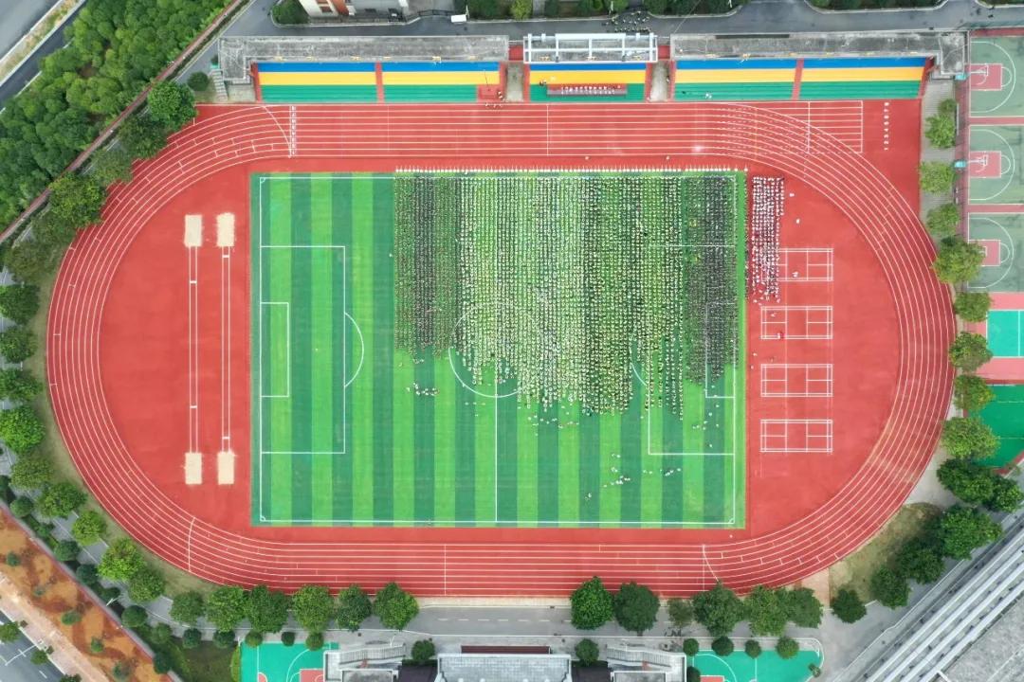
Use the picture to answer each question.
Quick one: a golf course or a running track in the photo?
running track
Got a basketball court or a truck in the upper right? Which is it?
basketball court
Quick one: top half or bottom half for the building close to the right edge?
bottom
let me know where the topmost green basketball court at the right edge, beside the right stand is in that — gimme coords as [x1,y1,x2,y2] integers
[969,36,1024,116]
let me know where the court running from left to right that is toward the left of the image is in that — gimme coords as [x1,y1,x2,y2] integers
[240,643,339,682]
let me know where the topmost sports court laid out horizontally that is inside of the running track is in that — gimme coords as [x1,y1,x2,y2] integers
[761,248,833,281]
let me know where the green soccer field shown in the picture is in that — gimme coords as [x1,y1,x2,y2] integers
[249,171,747,530]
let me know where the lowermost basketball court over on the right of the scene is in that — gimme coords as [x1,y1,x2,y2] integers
[689,651,822,682]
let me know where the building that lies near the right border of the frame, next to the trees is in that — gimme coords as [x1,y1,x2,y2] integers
[832,507,1024,682]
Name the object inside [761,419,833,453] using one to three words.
sports court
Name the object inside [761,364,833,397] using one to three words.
sports court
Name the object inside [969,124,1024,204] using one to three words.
basketball court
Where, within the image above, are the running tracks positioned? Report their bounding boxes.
[47,99,955,599]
